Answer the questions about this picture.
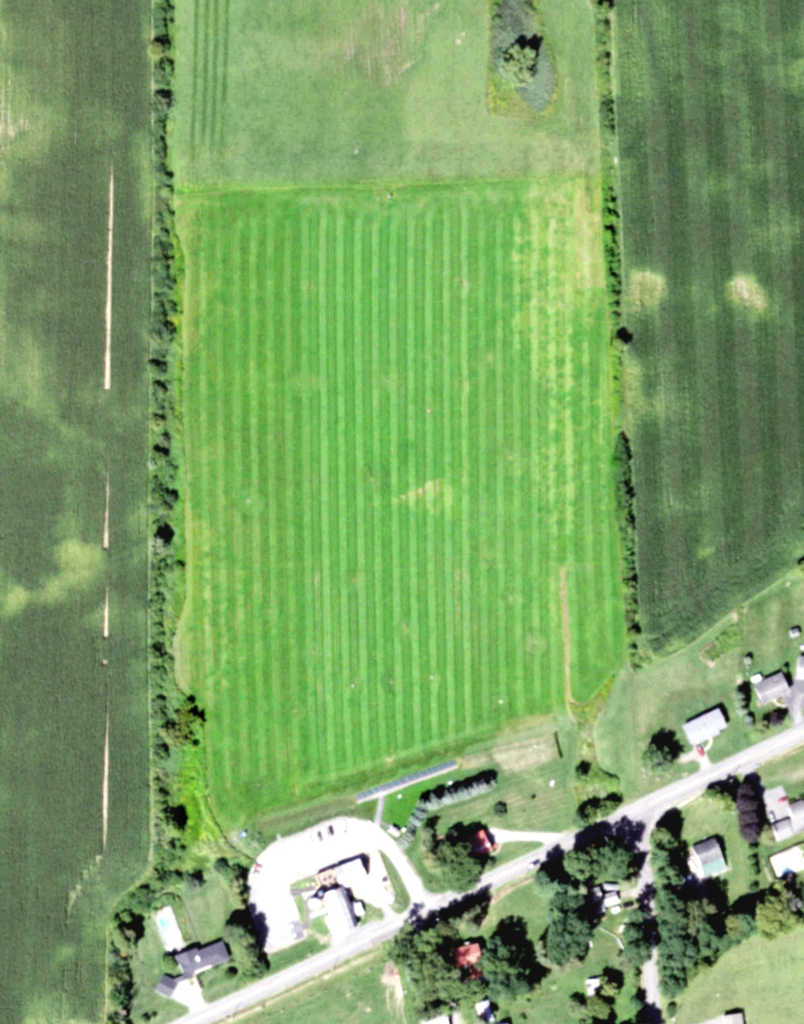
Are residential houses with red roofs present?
Yes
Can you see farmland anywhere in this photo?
Yes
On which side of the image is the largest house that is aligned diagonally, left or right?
left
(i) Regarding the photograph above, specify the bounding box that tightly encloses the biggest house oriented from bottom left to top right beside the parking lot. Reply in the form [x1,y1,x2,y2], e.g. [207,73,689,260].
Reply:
[156,939,227,998]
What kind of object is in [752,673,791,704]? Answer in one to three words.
house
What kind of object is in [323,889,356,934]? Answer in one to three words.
barn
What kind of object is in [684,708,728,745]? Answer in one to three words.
house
